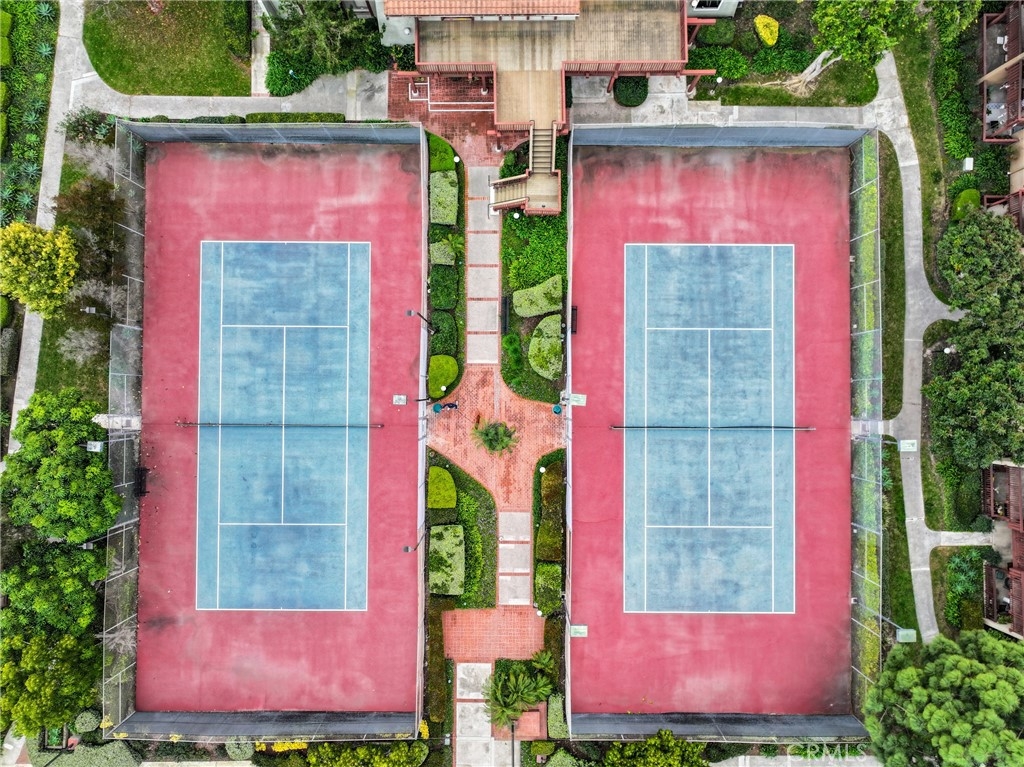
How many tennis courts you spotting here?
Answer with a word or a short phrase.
2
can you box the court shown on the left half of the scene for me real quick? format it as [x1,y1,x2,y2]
[136,142,428,712]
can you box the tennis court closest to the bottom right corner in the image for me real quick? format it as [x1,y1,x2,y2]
[566,146,853,715]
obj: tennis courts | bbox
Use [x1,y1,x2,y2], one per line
[566,146,853,715]
[136,142,428,712]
